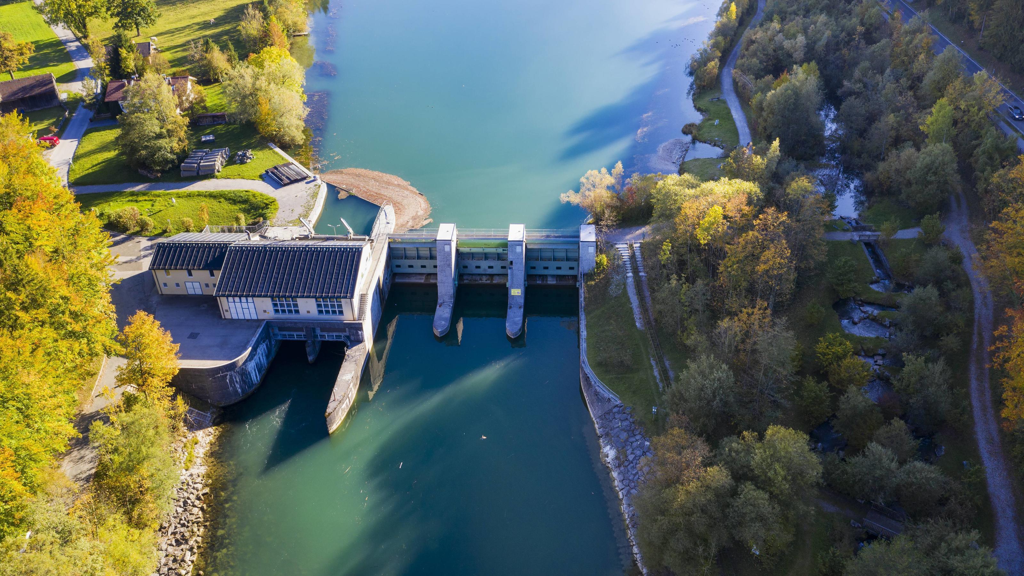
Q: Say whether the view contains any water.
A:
Yes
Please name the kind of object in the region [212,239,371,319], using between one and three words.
building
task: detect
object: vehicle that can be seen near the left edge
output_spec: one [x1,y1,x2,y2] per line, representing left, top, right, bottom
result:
[36,135,59,148]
